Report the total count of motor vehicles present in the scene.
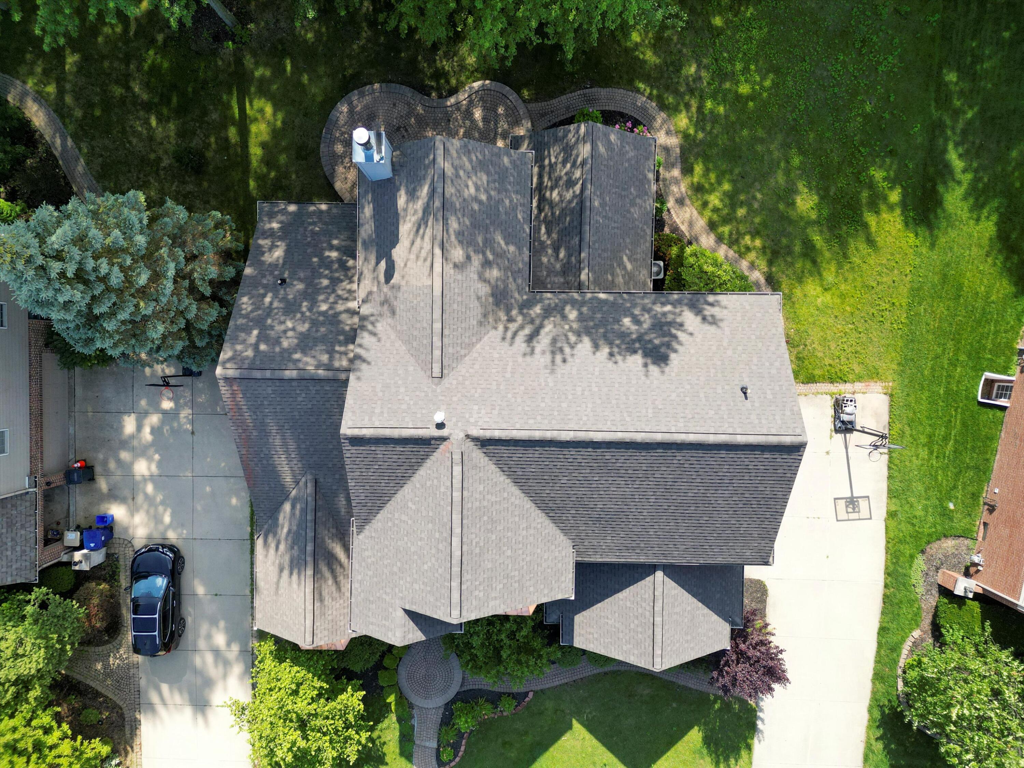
1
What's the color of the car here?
black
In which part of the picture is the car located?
bottom left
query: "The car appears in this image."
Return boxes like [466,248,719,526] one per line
[125,542,185,654]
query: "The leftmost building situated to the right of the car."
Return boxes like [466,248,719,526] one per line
[217,122,809,673]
